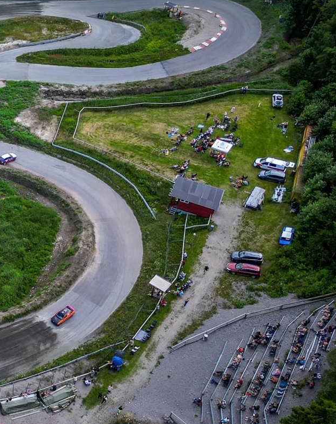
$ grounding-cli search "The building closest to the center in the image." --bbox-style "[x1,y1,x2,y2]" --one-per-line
[154,173,221,221]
